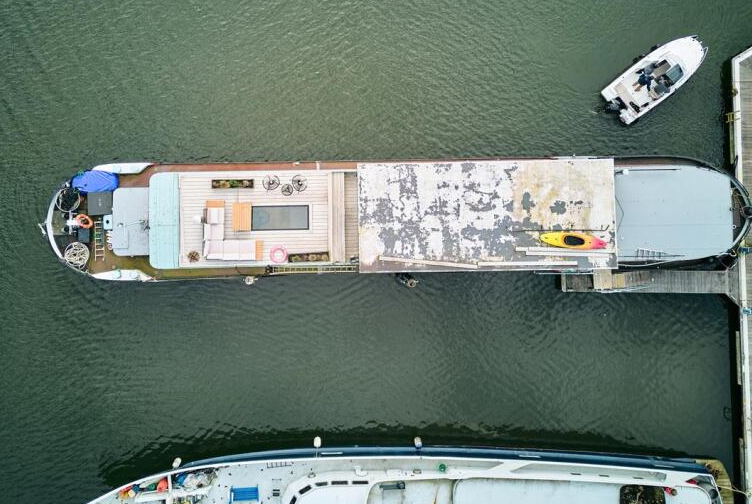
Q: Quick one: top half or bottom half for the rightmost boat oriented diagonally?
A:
top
